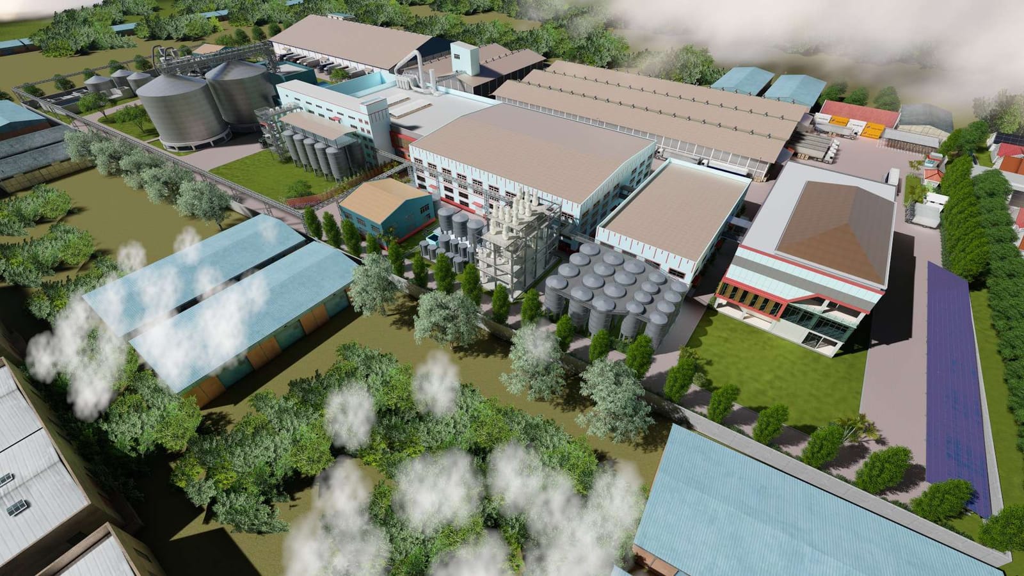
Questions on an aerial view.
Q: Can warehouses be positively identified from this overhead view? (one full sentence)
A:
Yes, there's a warehouse down there.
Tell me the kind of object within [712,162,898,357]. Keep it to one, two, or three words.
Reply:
building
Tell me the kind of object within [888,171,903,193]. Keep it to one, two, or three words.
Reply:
vehicle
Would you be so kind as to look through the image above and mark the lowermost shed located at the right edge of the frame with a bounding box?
[636,423,1017,576]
